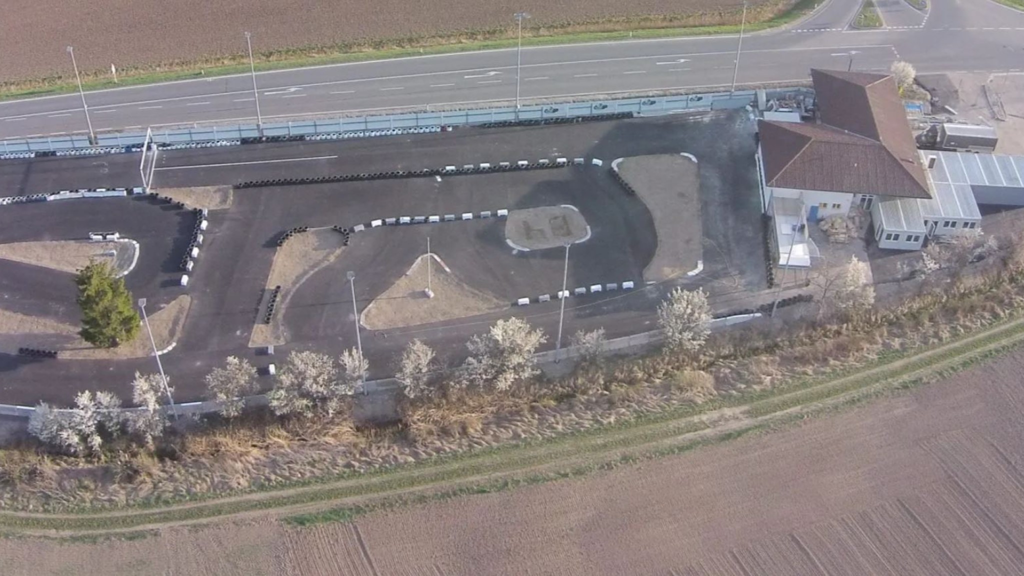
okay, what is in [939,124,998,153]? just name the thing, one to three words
trailer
